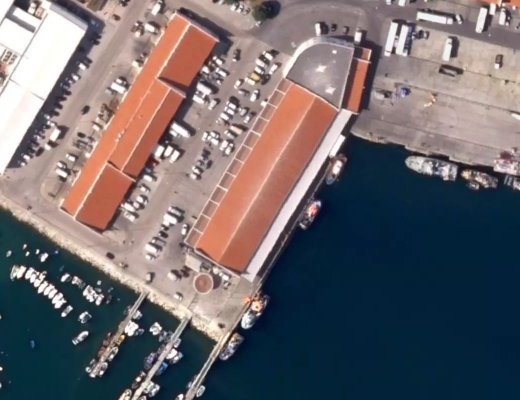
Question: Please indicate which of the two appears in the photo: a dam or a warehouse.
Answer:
warehouse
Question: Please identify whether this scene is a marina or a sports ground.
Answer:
marina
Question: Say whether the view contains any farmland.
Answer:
No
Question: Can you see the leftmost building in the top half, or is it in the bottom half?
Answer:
top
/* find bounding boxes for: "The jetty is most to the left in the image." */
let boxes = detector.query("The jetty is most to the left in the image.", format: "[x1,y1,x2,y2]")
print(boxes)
[89,287,150,377]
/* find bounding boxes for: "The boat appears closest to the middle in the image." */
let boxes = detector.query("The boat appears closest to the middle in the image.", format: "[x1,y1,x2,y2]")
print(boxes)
[300,202,319,229]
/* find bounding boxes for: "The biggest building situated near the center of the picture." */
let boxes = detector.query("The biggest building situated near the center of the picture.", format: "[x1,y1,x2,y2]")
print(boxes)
[184,37,371,282]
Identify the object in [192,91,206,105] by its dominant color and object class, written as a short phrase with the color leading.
white vehicle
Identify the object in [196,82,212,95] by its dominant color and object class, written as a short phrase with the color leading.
white vehicle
